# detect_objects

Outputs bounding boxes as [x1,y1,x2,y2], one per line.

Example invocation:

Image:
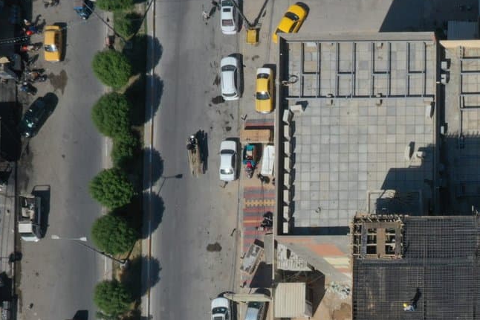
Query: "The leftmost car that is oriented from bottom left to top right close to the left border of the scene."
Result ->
[19,97,56,141]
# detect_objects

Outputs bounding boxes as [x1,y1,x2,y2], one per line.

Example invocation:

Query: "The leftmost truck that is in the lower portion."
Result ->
[17,191,43,239]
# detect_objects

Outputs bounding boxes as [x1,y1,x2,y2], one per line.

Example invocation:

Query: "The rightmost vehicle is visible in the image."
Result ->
[274,3,308,41]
